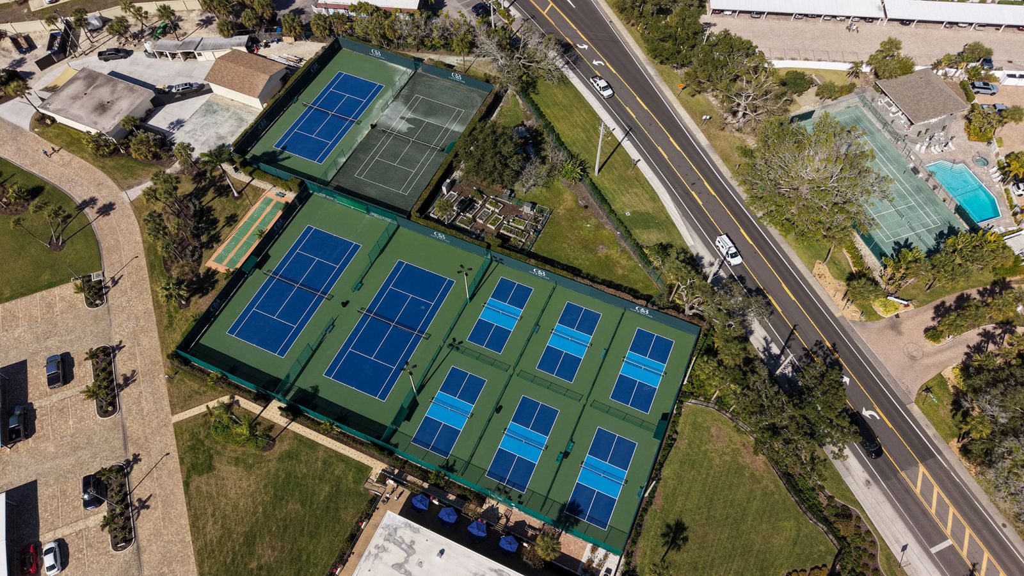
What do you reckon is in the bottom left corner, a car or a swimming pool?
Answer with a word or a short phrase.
car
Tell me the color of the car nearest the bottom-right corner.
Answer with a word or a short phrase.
black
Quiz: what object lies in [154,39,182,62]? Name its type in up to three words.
shed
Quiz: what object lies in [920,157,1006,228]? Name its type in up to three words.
swimming pool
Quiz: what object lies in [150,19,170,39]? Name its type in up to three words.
work vehicle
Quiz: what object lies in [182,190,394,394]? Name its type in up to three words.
tennis court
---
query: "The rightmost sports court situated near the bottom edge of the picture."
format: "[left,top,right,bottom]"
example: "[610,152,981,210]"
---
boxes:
[538,400,659,554]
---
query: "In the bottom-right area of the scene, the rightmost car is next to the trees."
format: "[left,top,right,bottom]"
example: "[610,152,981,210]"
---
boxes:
[851,412,885,454]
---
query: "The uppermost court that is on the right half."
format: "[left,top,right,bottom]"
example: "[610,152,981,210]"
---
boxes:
[789,102,968,264]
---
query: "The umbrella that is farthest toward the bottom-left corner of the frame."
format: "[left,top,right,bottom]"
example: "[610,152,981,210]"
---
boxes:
[410,494,431,515]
